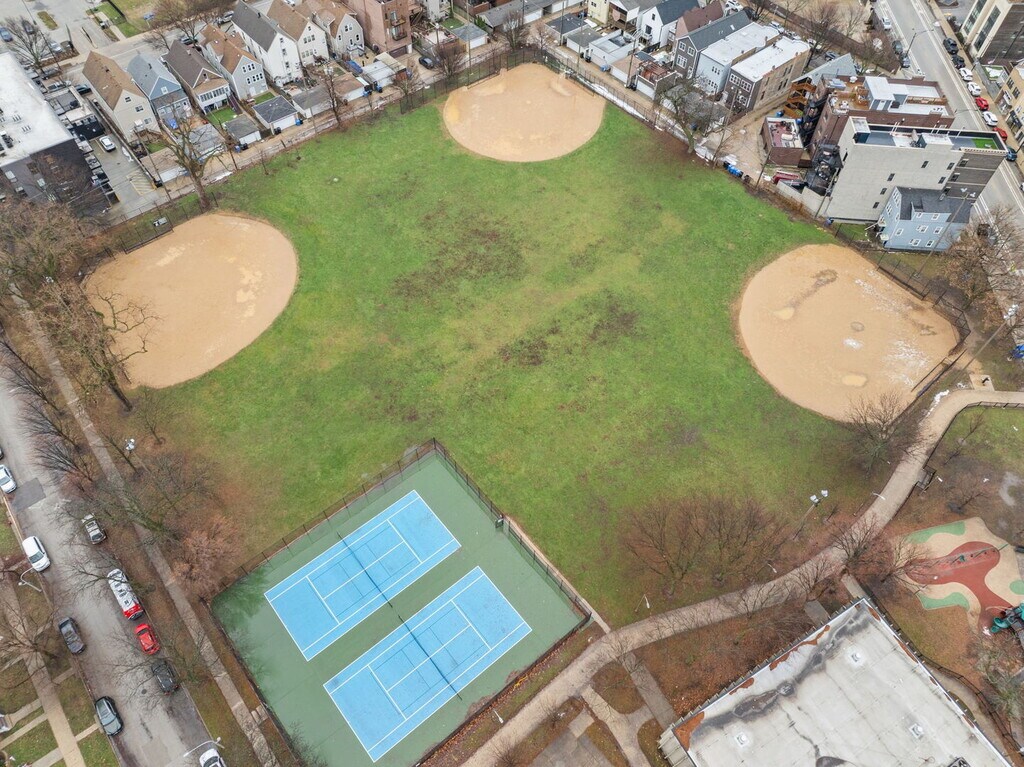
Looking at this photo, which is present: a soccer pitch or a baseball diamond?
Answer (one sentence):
The image shows a baseball diamond.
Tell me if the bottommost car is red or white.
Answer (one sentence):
The bottommost car is white.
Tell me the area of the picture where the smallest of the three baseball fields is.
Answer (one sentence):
You can find the smallest of the three baseball fields in the top area of the picture.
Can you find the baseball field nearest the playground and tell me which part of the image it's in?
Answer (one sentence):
Look in the right portion of the view to spot the baseball field nearest the playground.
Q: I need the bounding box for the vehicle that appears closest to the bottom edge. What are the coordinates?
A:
[197,742,225,767]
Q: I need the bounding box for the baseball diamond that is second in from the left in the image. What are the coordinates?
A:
[440,60,610,165]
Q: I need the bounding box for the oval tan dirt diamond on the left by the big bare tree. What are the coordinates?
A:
[86,208,303,392]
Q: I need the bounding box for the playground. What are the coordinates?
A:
[896,517,1024,643]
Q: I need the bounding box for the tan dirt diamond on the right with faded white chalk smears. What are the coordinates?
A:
[735,240,962,426]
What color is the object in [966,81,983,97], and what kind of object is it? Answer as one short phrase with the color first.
white car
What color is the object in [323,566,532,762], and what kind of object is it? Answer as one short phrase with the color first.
blue tennis court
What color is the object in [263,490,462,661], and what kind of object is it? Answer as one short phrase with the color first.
blue tennis court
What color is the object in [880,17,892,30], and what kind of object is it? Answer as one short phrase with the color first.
white vehicle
